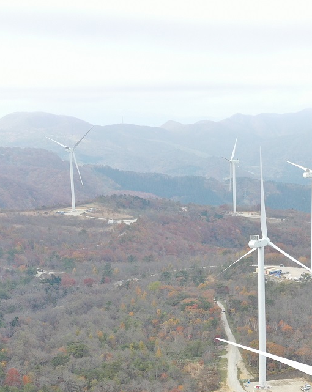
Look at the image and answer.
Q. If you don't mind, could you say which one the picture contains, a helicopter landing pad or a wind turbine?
wind turbine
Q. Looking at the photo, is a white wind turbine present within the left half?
Yes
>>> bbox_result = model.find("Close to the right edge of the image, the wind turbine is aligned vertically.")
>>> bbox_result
[213,146,312,388]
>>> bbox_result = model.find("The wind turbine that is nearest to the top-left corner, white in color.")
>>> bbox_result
[45,125,94,210]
